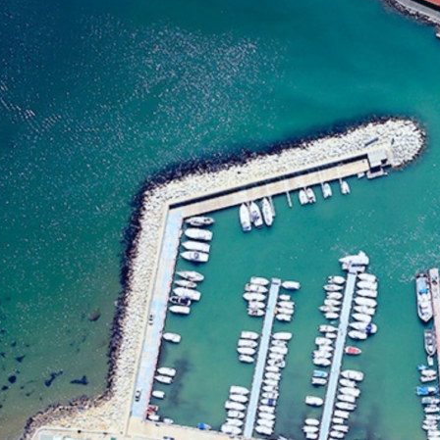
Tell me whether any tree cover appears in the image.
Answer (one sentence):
No, tree cover can't be seen anywhere here.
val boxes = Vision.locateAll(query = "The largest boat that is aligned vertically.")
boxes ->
[416,274,431,323]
